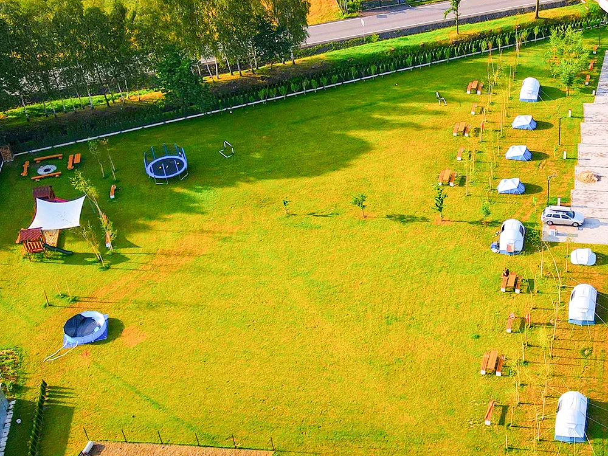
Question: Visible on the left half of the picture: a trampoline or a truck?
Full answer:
The one visible on the left half of the picture is a trampoline.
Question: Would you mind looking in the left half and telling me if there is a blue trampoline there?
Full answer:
Yes, I can see a blue trampoline in the left half.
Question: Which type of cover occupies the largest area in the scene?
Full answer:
The scene is dominated by grass.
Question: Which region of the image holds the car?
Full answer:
The car appears toward the right of the photo.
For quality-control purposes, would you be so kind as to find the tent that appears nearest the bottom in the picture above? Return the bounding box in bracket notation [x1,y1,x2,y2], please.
[540,388,606,456]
